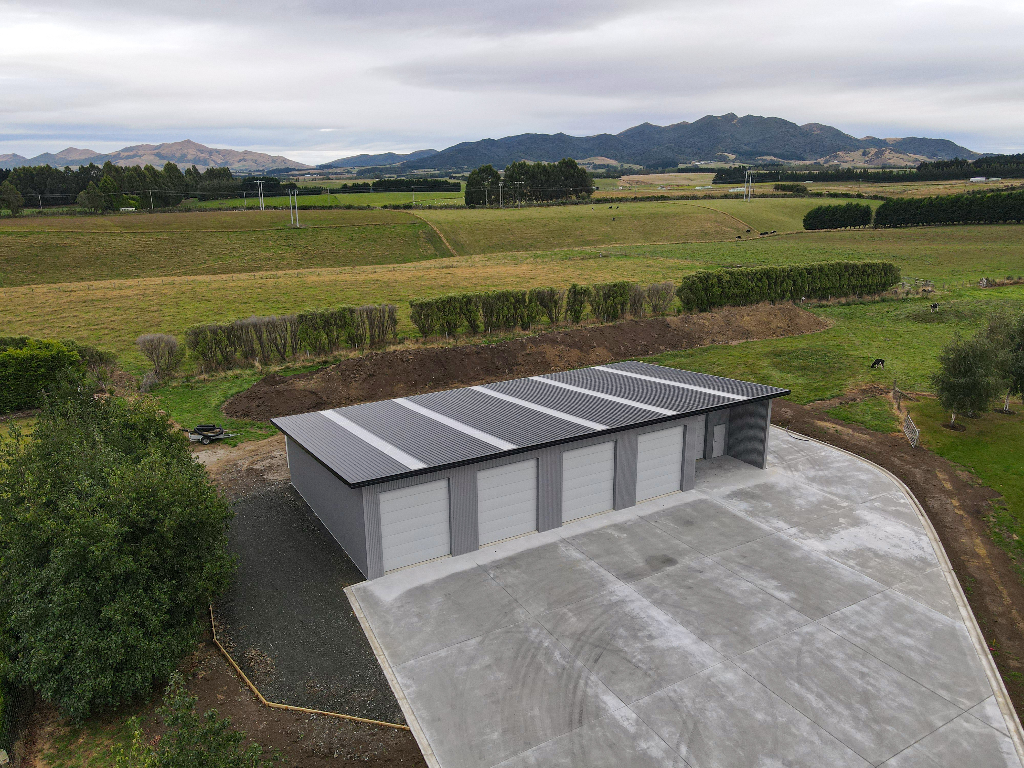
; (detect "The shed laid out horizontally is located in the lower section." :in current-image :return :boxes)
[270,360,792,581]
